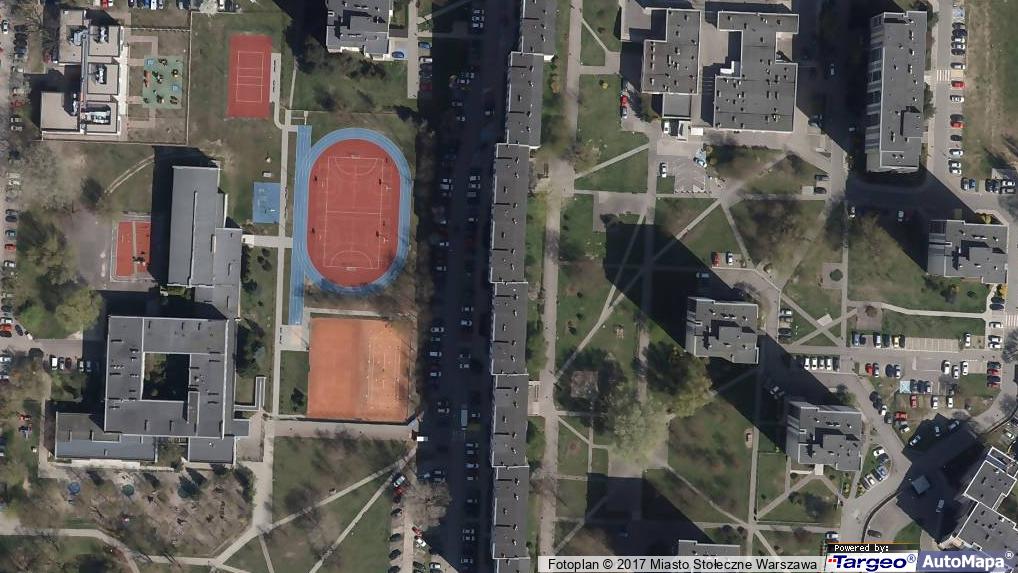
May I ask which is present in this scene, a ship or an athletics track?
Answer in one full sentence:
Of the two, only an athletics track appears.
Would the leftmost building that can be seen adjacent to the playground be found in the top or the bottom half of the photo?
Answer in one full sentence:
The leftmost building that can be seen adjacent to the playground sits in the top half of the picture.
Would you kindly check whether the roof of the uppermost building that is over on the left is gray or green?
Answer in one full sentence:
In this view, the roof of the uppermost building that is over on the left is gray.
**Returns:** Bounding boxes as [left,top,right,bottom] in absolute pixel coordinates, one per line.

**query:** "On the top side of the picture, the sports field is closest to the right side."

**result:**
[306,139,401,286]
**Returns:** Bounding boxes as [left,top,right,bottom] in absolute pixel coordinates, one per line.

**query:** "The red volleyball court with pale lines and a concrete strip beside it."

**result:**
[228,35,271,117]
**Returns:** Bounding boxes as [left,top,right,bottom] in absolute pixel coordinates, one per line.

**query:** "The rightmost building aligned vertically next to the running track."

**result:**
[486,0,556,573]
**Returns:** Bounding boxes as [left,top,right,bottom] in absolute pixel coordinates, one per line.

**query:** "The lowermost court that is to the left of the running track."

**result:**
[253,182,280,224]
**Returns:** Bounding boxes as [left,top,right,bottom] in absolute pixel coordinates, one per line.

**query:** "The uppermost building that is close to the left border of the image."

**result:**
[41,10,122,133]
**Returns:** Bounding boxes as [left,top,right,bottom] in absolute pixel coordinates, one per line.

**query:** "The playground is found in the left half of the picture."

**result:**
[142,56,183,108]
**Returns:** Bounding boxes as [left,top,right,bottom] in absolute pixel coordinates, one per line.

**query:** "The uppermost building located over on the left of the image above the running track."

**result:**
[327,0,392,59]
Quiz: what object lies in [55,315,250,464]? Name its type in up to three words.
building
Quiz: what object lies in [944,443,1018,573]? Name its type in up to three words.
house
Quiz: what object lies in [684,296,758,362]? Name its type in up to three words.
building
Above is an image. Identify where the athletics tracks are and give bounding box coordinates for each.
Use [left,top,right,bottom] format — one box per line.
[289,125,411,325]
